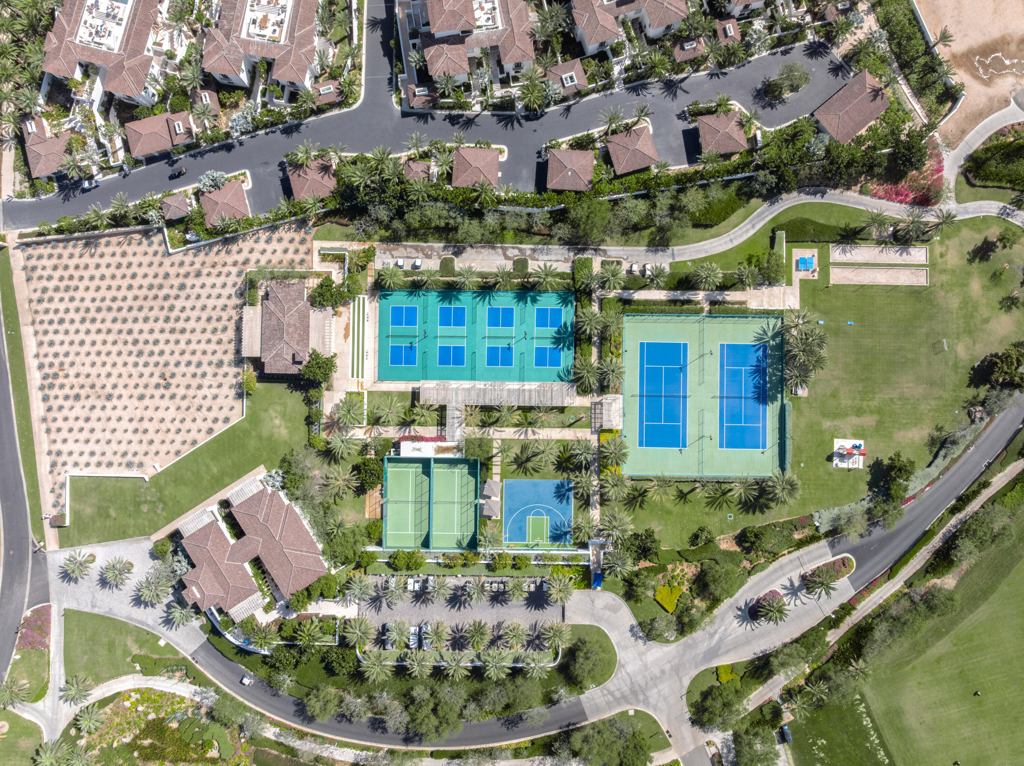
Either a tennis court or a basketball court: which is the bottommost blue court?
basketball court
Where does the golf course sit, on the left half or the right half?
right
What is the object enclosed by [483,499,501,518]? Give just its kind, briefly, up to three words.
umbrella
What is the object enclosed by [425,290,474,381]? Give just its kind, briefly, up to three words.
sports court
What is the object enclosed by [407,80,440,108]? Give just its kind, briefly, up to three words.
shed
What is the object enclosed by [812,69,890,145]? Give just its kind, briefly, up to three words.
building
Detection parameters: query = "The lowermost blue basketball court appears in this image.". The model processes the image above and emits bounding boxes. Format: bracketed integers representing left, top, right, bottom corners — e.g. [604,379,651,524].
[503,479,574,549]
